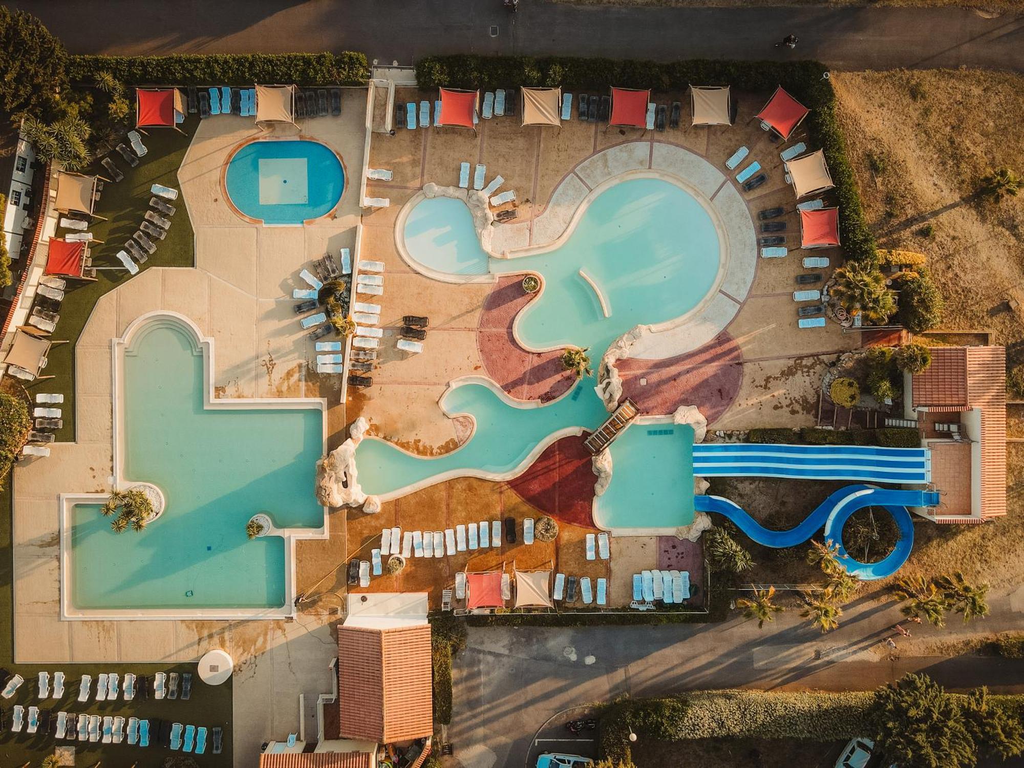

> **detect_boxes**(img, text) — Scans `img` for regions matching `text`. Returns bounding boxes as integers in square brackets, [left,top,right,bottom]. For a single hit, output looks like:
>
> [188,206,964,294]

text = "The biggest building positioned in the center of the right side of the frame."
[890,346,1008,522]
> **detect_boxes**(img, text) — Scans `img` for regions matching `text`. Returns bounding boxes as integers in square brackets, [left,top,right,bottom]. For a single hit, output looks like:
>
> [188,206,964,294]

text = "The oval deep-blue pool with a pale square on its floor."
[222,136,348,225]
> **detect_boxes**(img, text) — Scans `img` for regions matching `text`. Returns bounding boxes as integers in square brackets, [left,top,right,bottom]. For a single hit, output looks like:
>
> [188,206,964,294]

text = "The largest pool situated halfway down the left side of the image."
[60,310,328,620]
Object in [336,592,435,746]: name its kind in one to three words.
building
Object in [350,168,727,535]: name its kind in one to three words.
swimming pool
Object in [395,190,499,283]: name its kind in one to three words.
swimming pool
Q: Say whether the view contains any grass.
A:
Yes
